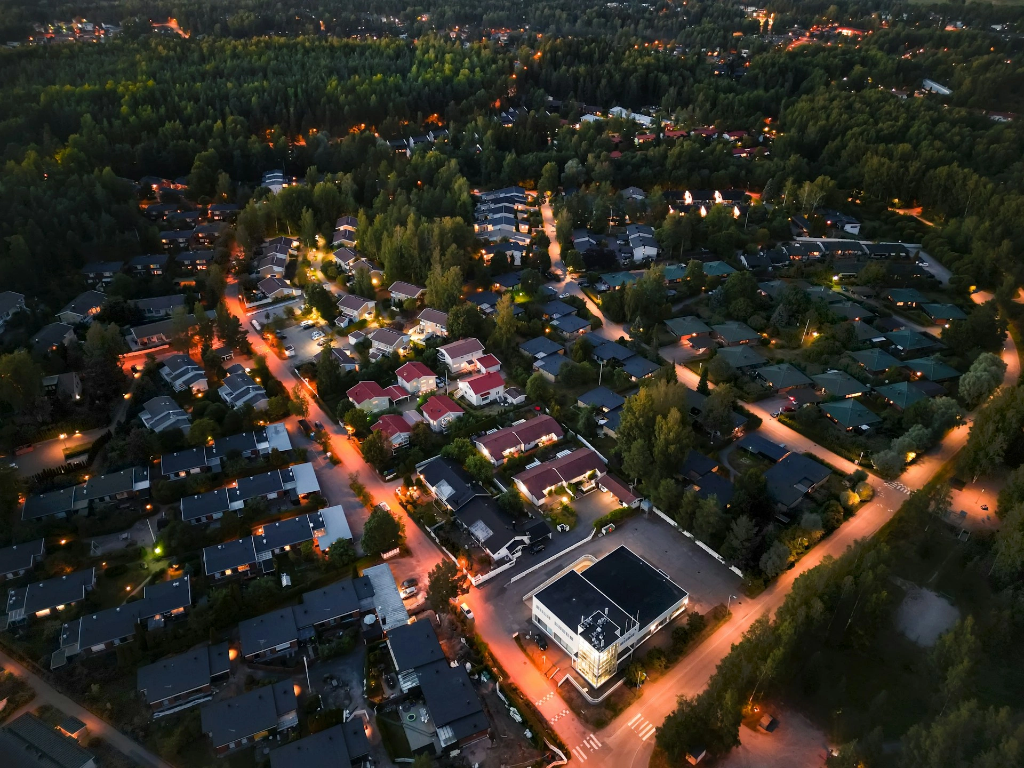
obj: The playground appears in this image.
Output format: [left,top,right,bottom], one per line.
[86,508,164,553]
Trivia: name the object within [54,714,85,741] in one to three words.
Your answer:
shed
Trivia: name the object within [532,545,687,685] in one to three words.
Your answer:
building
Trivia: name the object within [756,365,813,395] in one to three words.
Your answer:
house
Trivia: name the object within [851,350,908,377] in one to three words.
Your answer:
house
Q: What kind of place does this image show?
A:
residential area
